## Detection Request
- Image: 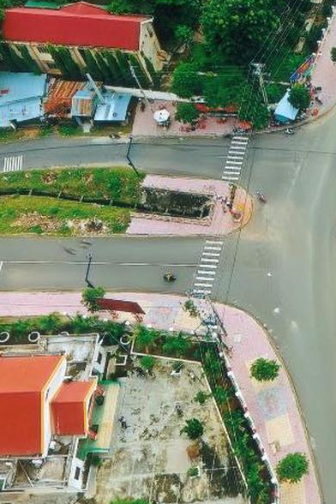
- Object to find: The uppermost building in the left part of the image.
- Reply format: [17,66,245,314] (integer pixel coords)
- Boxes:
[4,0,168,83]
